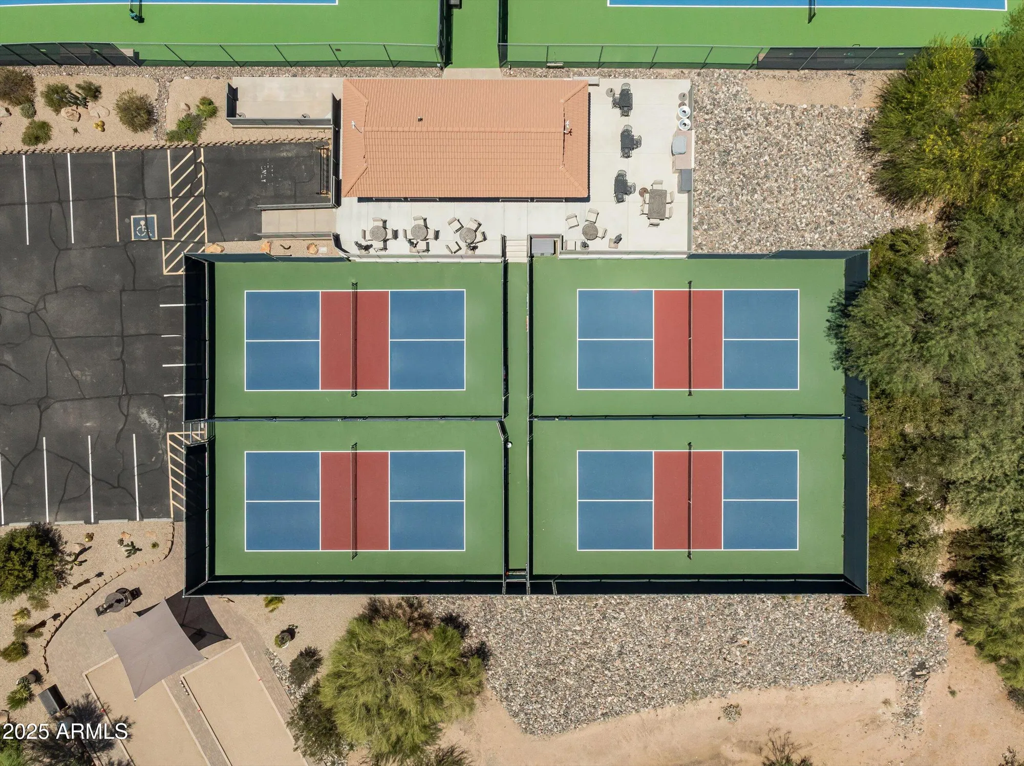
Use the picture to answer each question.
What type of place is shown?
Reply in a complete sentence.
The area seen from above is a sports ground.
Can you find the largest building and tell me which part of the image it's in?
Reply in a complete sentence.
Look in the top portion of the view to spot the largest building.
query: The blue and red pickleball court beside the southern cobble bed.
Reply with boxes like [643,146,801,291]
[531,420,844,580]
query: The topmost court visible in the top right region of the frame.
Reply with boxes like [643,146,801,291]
[500,0,1024,69]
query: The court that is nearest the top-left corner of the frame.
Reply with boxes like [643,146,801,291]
[0,0,443,67]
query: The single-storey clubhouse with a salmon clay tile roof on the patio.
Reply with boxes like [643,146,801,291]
[340,76,590,199]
